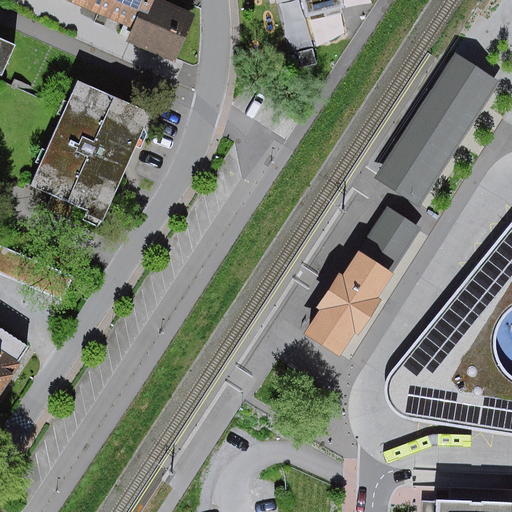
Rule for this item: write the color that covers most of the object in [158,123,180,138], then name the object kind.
gray car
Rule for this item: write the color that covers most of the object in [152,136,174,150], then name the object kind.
white vehicle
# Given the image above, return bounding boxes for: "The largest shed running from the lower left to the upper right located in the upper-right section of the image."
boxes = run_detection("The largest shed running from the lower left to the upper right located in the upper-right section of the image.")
[374,52,499,206]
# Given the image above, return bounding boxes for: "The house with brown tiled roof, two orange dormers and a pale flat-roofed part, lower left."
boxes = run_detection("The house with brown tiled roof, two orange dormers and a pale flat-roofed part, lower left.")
[0,328,28,395]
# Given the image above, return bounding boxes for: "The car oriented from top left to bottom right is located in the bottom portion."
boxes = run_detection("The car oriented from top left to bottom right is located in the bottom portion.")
[226,432,250,450]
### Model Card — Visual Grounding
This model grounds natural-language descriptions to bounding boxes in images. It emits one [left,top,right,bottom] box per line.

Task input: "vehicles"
[138,151,164,167]
[152,136,174,150]
[392,470,412,482]
[158,123,180,138]
[380,434,472,466]
[162,111,182,125]
[226,432,250,450]
[356,488,366,512]
[246,94,265,118]
[254,501,276,512]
